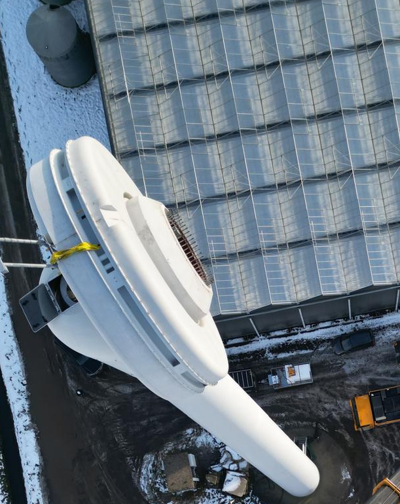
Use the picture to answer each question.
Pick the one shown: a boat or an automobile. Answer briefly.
automobile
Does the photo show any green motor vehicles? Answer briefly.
No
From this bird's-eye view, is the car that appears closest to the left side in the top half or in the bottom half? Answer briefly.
bottom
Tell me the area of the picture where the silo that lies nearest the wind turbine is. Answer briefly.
top left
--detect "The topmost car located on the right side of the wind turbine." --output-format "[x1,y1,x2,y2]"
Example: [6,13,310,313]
[328,324,379,357]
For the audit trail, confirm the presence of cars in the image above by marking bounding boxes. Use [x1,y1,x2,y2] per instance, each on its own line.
[328,324,379,357]
[49,337,101,379]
